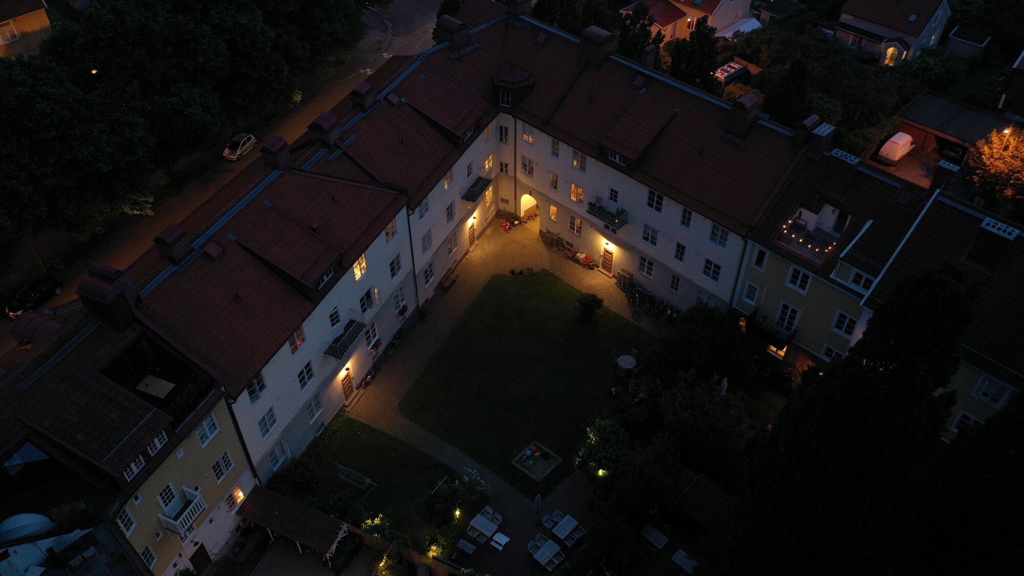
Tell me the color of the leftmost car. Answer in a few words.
black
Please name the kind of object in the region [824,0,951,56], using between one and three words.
house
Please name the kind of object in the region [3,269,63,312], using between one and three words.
car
